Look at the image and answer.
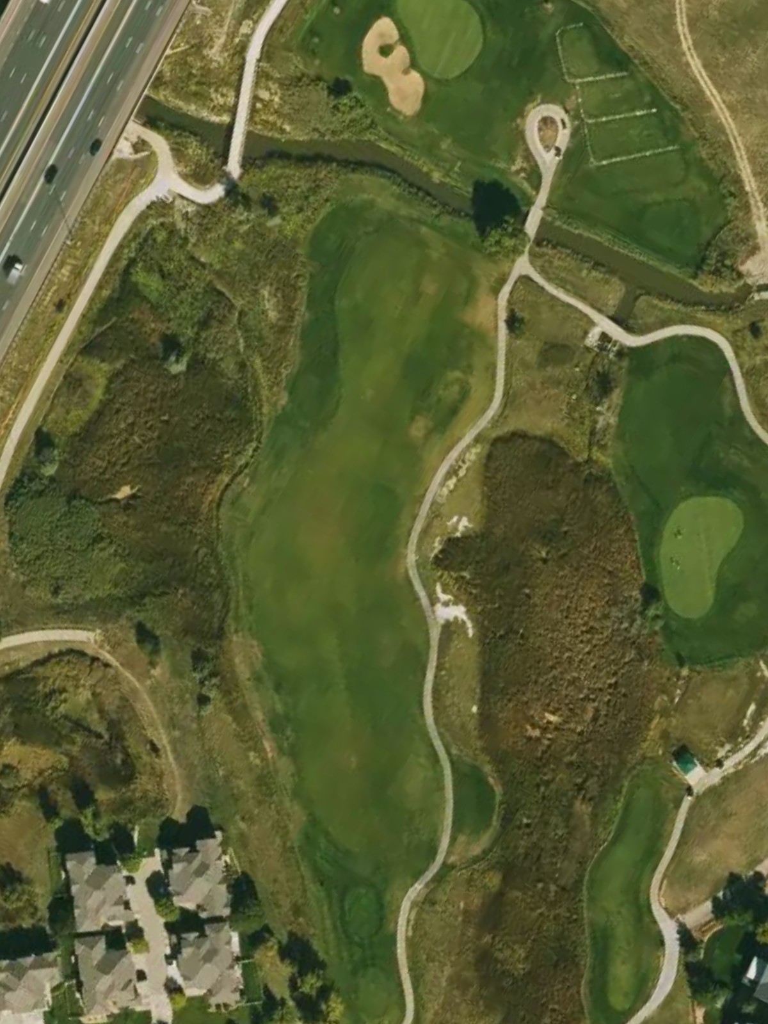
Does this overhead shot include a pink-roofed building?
No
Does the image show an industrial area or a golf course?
golf course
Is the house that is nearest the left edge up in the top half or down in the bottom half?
bottom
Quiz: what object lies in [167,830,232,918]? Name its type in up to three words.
house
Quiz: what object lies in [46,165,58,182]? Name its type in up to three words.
vehicle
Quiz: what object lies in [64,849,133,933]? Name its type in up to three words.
house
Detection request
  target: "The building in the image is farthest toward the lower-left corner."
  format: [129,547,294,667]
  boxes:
[0,955,60,1023]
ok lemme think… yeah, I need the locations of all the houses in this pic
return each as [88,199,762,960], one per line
[74,933,143,1021]
[0,955,60,1023]
[746,962,768,1011]
[64,849,133,933]
[177,920,242,1007]
[167,830,232,918]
